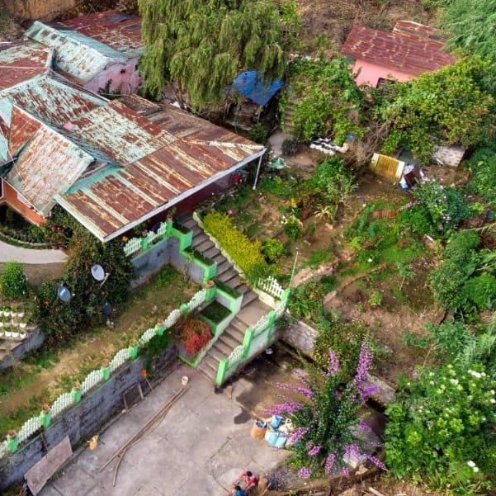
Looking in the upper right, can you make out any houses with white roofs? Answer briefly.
No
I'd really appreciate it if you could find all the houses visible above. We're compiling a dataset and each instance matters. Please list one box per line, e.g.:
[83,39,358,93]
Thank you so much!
[0,46,266,258]
[339,20,451,86]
